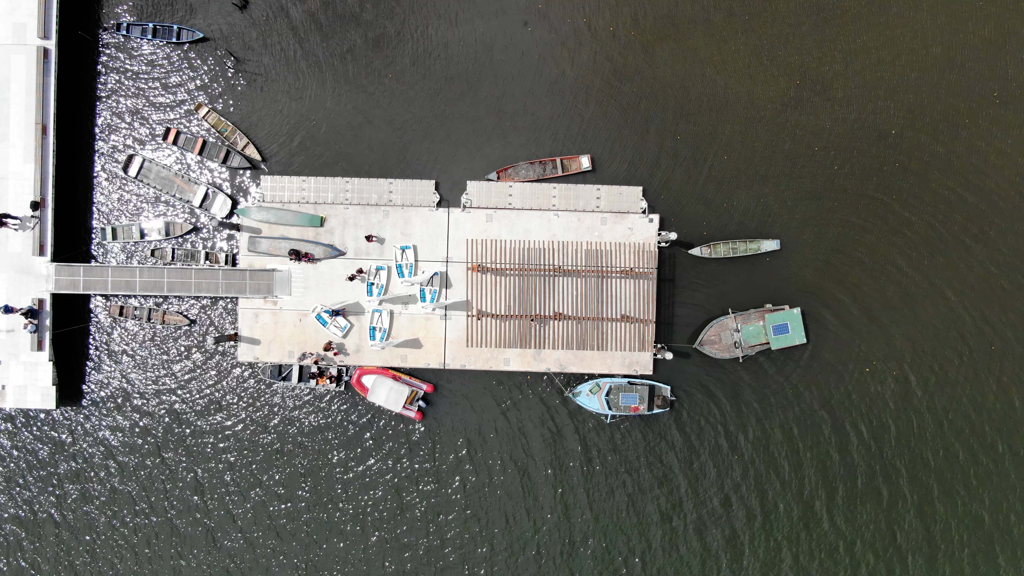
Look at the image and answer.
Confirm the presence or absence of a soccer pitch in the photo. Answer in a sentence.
No, there isn't any soccer pitch down there.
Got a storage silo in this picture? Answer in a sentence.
No, I can see no storage silo in this picture.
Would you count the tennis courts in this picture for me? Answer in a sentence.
I count no tennis courts.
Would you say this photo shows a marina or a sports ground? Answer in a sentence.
This image shows a marina.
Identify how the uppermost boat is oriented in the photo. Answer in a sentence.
The uppermost boat is laid out horizontally.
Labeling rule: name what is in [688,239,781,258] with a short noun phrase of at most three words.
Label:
boat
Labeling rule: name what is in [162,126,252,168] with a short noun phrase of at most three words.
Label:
boat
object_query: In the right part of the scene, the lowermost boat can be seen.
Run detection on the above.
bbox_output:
[564,377,676,423]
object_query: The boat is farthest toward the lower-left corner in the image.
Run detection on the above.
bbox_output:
[108,304,191,327]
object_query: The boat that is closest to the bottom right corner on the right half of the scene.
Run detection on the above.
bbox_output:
[692,305,807,362]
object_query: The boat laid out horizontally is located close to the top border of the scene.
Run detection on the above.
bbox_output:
[115,22,204,42]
